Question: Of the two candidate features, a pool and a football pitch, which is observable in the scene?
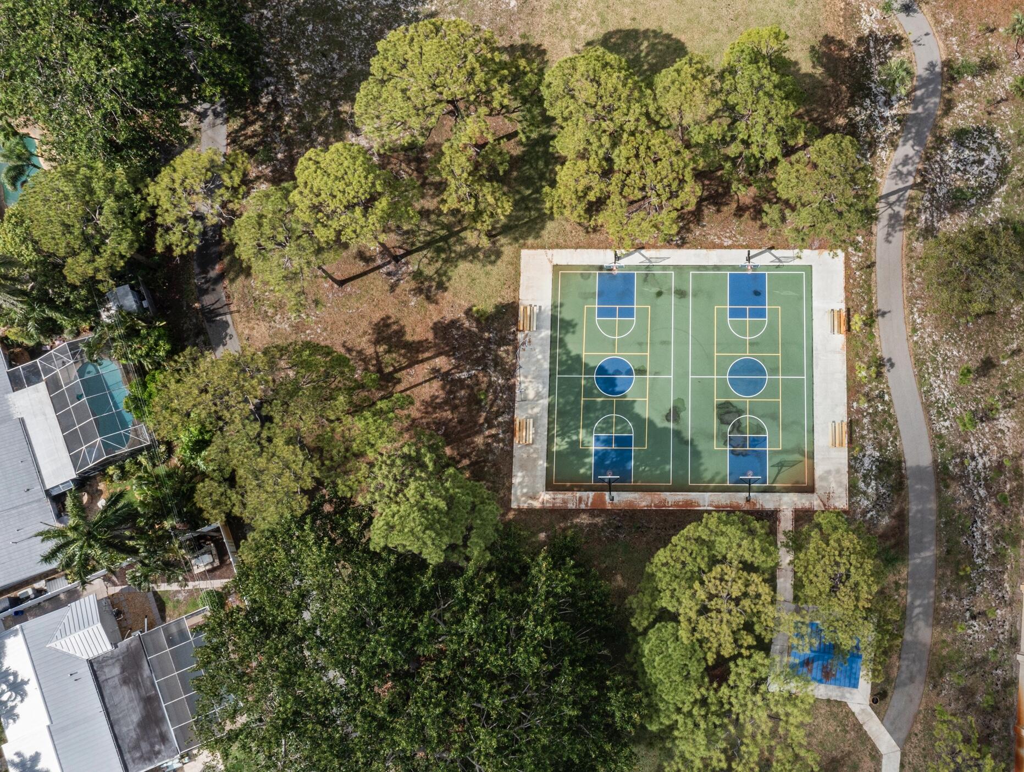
pool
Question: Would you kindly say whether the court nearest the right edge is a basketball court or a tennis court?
basketball court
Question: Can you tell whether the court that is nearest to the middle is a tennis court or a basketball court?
basketball court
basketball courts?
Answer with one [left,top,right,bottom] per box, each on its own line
[545,264,682,492]
[680,265,815,493]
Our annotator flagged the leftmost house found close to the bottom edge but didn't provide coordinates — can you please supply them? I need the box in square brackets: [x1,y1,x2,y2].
[0,593,190,772]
